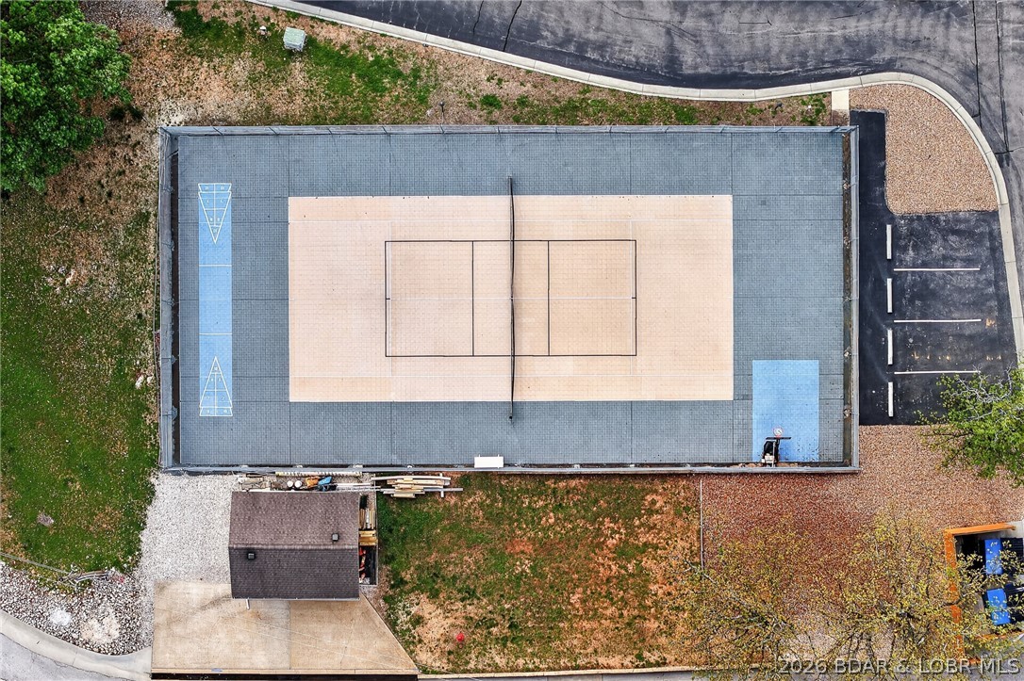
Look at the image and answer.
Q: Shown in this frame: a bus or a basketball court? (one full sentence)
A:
It is a basketball court that can be seen here.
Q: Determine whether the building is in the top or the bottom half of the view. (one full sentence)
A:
Seen from above, the building lies in the bottom half of the view.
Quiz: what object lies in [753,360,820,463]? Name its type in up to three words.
basketball court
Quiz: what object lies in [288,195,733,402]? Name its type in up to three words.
tennis court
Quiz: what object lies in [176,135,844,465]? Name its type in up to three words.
sports court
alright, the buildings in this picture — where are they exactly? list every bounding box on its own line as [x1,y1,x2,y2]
[228,488,361,600]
